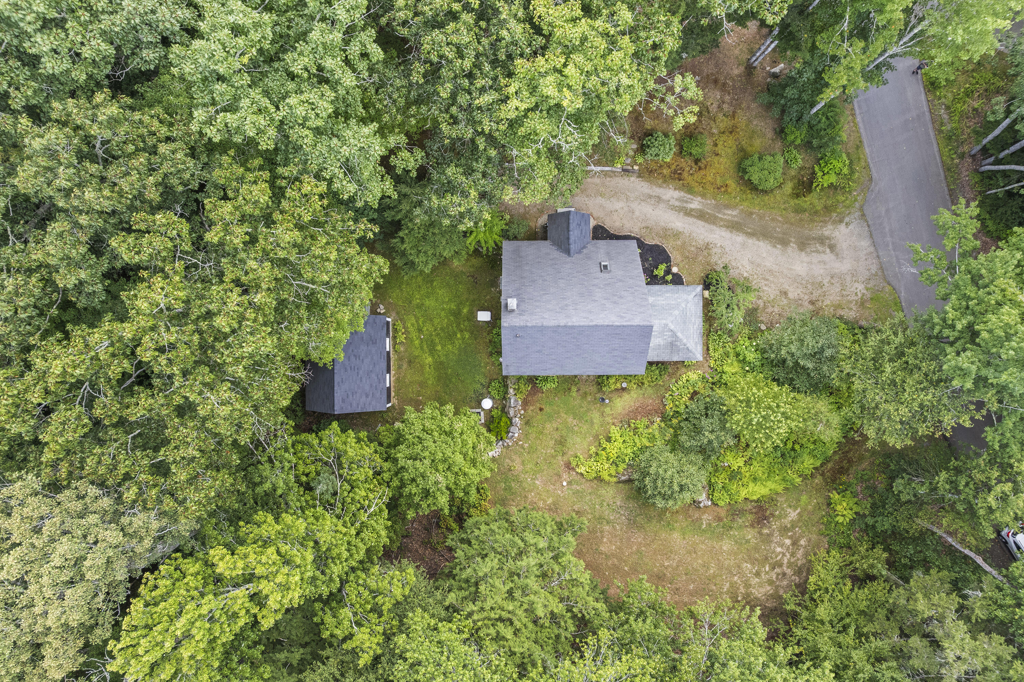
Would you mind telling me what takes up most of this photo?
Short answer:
trees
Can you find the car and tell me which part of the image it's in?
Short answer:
bottom right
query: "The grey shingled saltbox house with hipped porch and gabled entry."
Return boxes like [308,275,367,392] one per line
[499,210,703,374]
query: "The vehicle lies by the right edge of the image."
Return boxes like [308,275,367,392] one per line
[1004,523,1024,571]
